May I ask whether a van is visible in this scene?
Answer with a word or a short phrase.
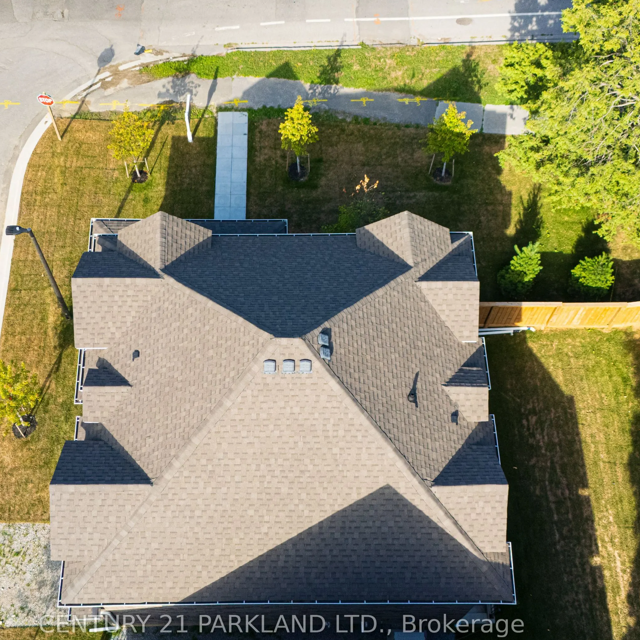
No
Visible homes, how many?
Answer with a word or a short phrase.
1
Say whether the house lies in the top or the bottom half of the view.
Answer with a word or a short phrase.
bottom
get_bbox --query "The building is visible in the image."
[46,212,536,633]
